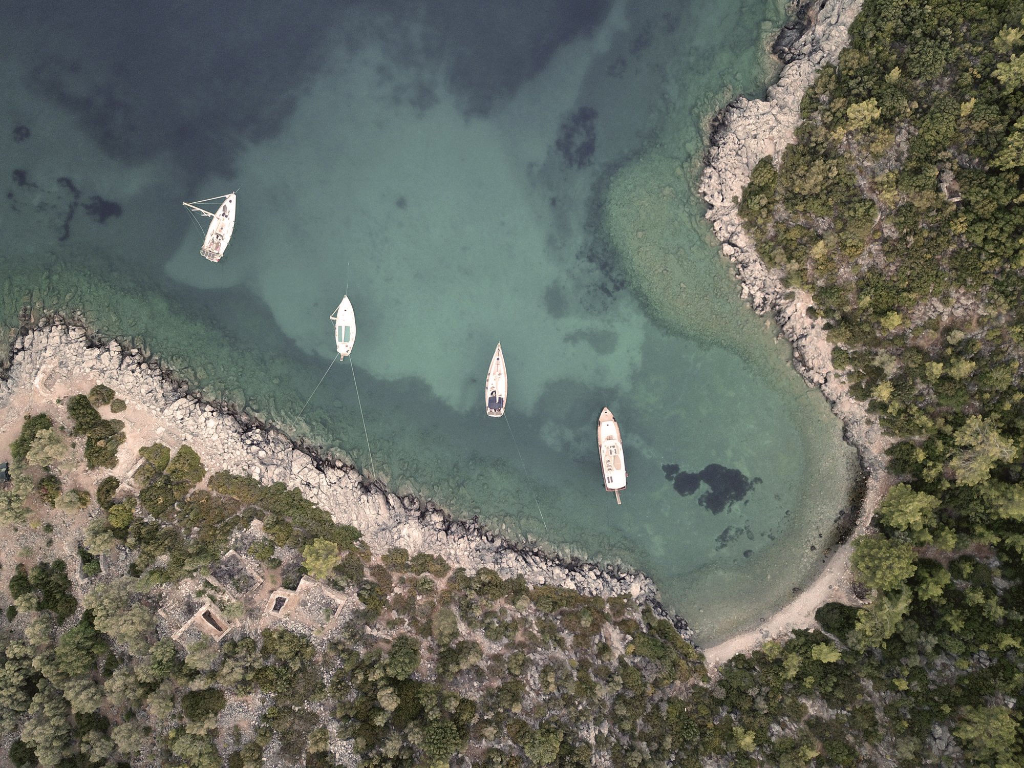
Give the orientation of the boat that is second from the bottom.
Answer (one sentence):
The boat that is second from the bottom has been laid out vertically relative to the frame.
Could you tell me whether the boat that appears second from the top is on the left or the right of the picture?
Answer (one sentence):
The boat that appears second from the top appears in the left half of the scene.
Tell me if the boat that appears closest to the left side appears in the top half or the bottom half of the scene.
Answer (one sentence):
Seen from above, the boat that appears closest to the left side lies in the top half of the view.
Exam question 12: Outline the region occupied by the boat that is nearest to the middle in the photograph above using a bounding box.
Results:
[485,343,508,417]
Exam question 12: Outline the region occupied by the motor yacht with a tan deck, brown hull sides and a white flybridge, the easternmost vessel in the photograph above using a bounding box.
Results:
[598,406,628,504]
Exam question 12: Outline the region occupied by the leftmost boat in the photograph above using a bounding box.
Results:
[183,191,238,262]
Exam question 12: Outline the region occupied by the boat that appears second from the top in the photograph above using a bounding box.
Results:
[329,295,356,361]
